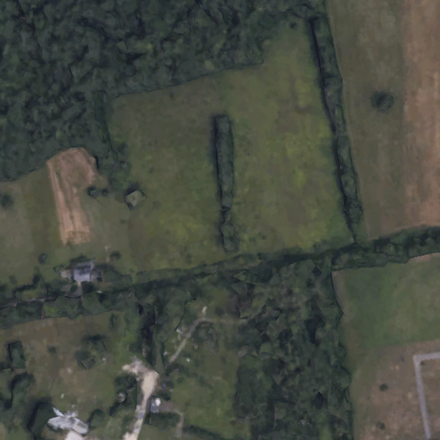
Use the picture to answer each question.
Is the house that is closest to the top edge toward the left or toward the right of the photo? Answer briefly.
left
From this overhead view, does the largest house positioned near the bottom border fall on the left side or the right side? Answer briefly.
left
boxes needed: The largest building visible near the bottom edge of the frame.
[57,405,90,434]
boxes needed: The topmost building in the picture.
[60,263,102,283]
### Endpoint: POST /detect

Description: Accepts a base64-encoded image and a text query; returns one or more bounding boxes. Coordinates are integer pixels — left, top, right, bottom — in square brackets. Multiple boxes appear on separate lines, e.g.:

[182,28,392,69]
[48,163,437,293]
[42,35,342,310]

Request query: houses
[60,263,102,283]
[57,405,90,434]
